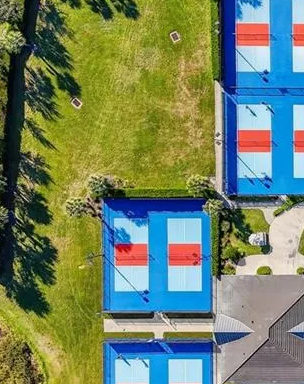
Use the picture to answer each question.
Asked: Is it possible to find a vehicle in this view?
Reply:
No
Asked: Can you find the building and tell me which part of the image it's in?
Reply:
bottom right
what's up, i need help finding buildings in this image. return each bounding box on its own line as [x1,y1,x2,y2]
[211,274,304,384]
